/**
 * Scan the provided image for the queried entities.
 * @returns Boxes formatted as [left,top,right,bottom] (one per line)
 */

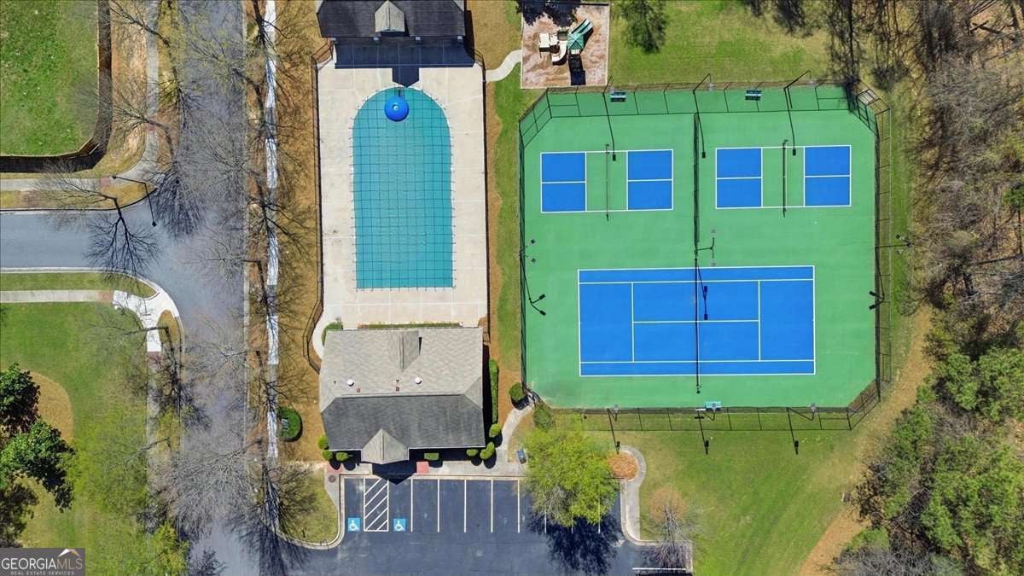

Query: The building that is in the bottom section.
[319,327,485,466]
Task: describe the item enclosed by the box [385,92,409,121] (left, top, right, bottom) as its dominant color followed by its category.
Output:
blue fountain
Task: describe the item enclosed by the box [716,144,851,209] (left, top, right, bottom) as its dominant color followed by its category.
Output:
blue sports court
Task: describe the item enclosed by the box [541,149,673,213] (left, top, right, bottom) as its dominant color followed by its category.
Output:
blue sports court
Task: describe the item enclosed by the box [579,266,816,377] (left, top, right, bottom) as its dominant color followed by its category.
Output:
blue tennis court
